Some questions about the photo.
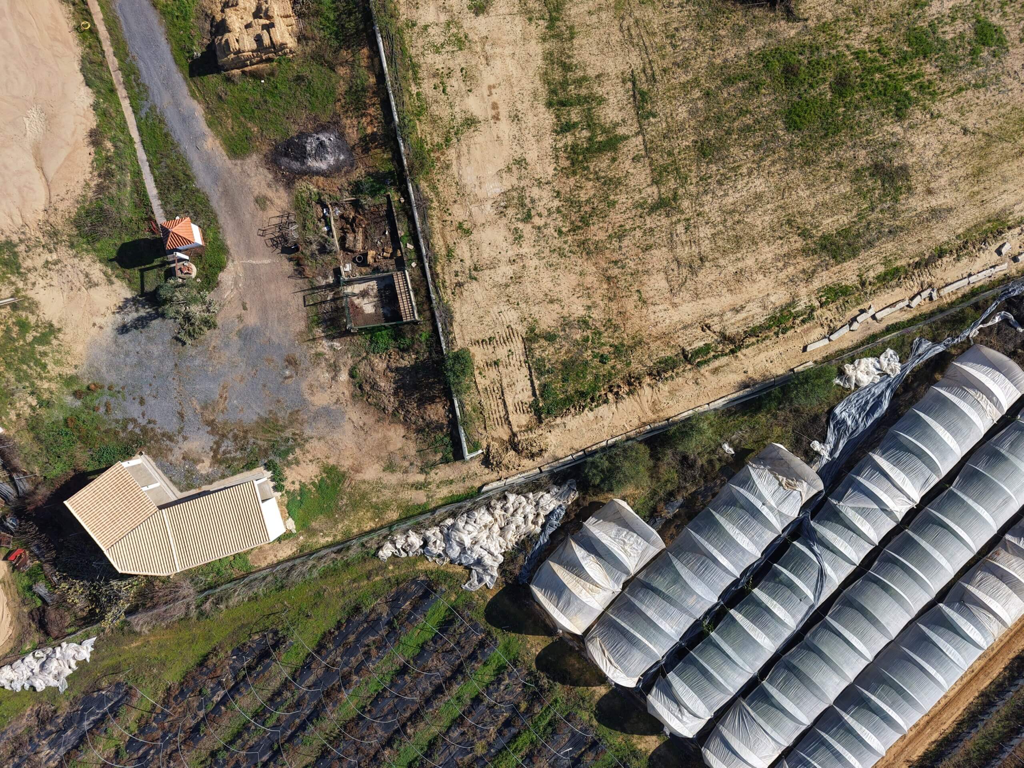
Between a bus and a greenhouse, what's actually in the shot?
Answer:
greenhouse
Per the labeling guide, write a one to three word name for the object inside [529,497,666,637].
greenhouse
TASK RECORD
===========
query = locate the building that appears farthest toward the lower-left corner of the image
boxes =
[62,449,285,576]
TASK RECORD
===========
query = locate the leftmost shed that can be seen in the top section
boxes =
[160,216,211,256]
